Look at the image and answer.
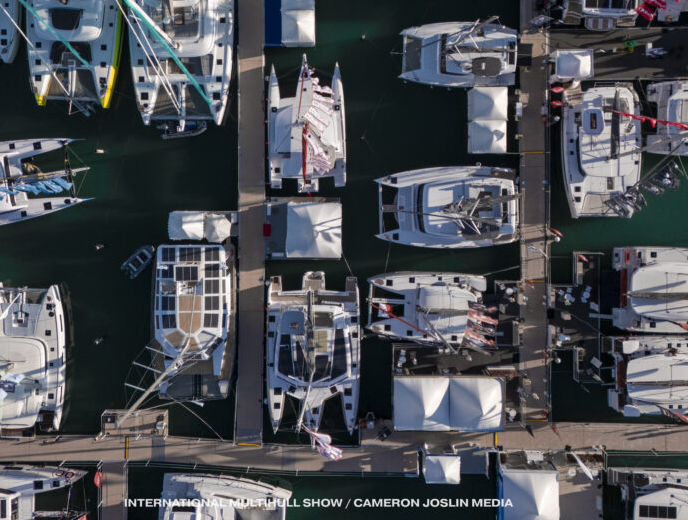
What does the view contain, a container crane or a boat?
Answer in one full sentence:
The image shows a boat.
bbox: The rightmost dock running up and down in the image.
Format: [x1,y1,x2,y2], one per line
[549,252,607,383]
